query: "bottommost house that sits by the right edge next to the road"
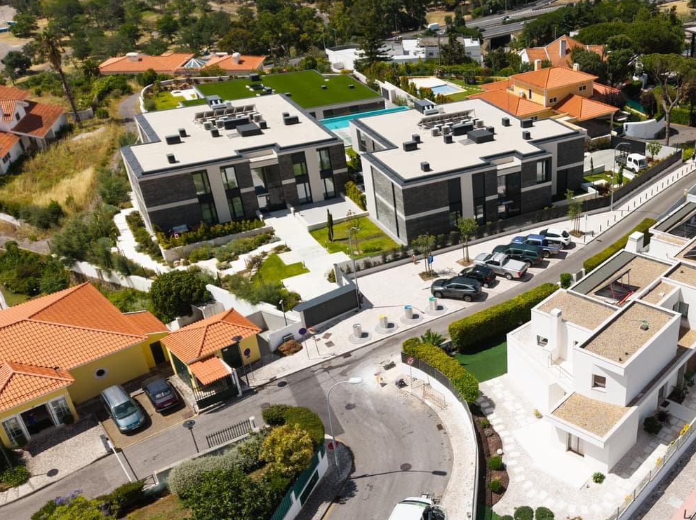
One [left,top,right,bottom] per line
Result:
[506,249,696,470]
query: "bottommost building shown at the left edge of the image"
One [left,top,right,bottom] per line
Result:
[0,279,170,455]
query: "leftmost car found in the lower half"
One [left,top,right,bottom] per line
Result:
[98,377,147,430]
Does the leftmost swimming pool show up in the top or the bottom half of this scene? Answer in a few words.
top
